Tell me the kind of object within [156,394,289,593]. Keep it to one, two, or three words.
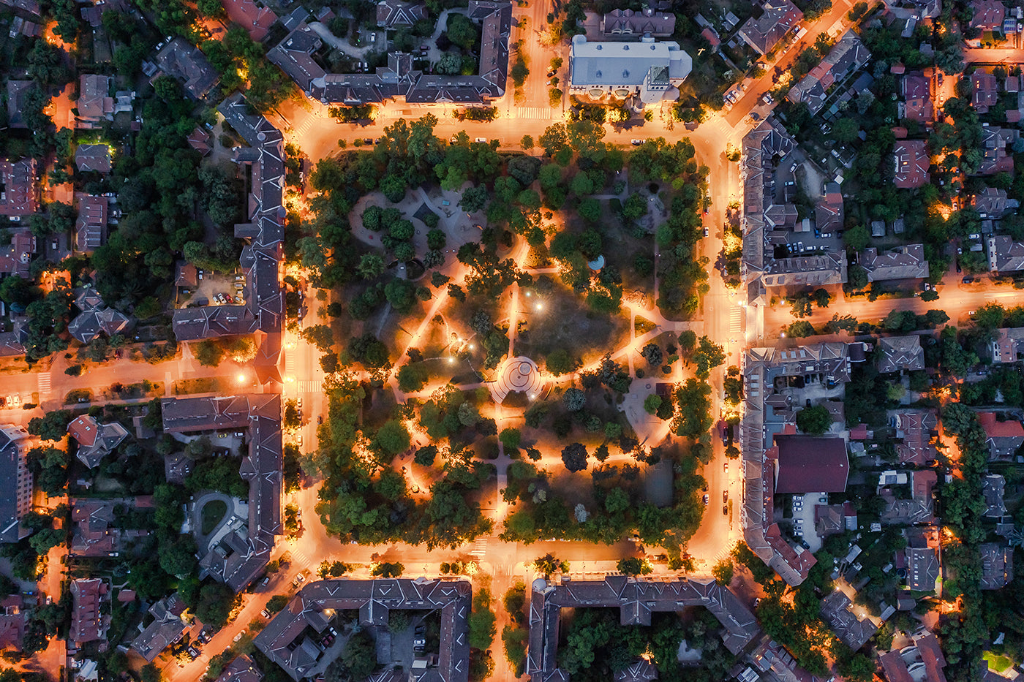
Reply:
building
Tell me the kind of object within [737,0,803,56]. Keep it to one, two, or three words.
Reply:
house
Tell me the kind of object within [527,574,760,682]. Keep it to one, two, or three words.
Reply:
building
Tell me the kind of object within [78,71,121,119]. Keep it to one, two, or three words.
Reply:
house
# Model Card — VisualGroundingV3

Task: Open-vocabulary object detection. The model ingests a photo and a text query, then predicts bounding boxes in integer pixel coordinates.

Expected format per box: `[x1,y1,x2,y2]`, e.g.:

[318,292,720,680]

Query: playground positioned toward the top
[350,182,487,270]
